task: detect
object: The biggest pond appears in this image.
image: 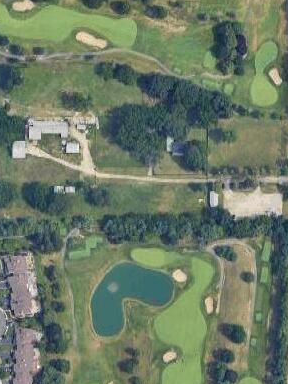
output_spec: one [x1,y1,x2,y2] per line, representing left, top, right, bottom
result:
[90,261,174,336]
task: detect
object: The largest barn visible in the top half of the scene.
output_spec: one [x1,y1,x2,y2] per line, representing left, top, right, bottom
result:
[28,119,68,140]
